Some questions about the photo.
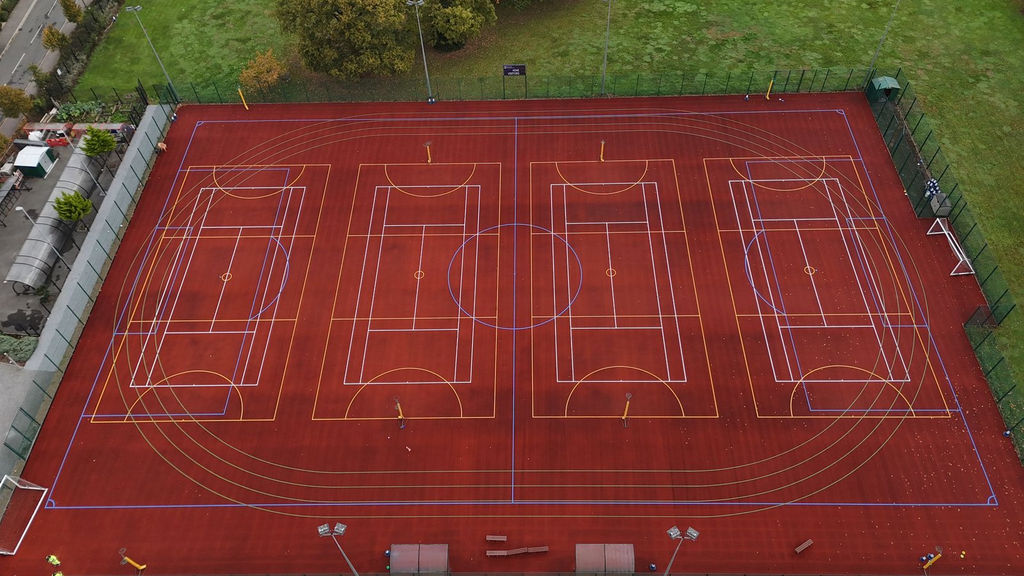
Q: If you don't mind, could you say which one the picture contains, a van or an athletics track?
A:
athletics track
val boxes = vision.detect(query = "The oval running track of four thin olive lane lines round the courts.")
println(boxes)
[113,109,930,518]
